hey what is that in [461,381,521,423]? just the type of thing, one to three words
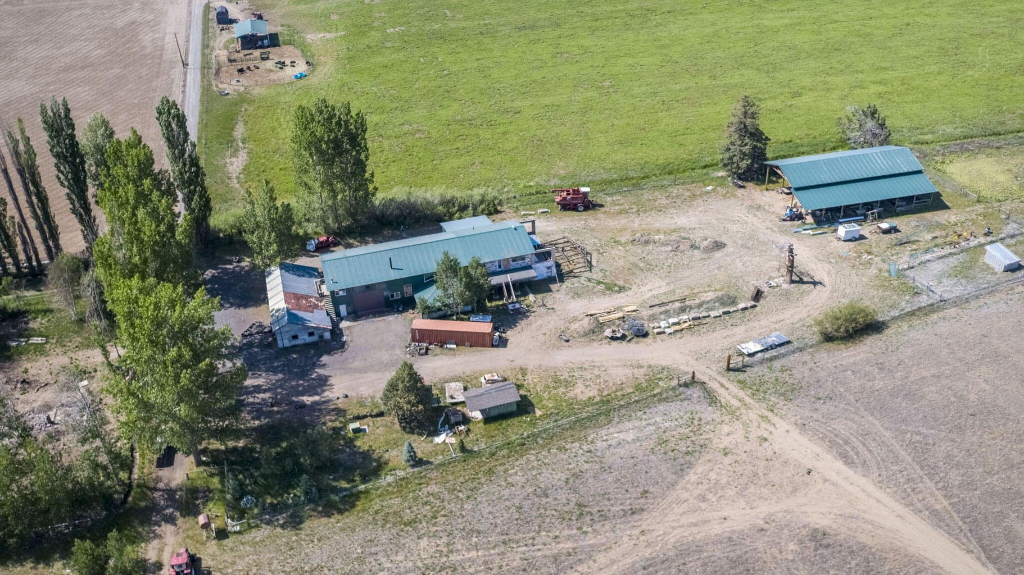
building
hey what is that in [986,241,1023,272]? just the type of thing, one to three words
shed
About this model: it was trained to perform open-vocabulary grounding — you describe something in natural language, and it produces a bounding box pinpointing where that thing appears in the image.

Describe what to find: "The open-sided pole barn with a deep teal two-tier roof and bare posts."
[767,144,939,220]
